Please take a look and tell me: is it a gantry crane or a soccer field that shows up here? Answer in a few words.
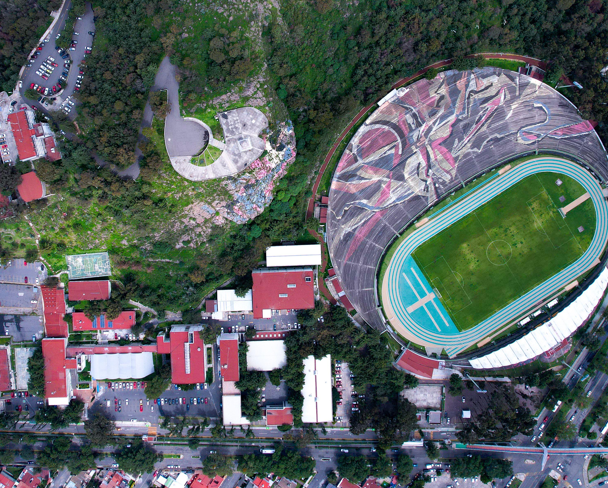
soccer field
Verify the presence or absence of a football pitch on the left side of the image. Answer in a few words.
No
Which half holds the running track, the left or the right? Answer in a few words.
right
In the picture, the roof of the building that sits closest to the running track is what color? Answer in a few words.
red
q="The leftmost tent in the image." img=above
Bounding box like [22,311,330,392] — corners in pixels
[90,353,153,380]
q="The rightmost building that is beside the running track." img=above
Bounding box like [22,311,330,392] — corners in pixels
[395,346,445,379]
